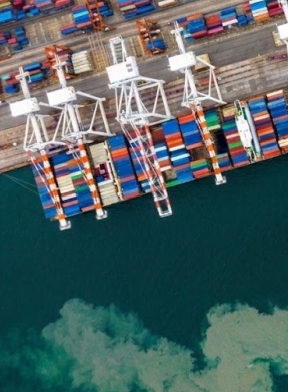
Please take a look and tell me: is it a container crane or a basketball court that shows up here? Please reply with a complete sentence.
It is a container crane that can be seen here.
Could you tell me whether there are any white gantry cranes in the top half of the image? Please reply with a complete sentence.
Yes, a white gantry crane can be seen in the top half of the image.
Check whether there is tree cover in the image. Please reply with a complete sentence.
No, the scene doesn't show any tree cover.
